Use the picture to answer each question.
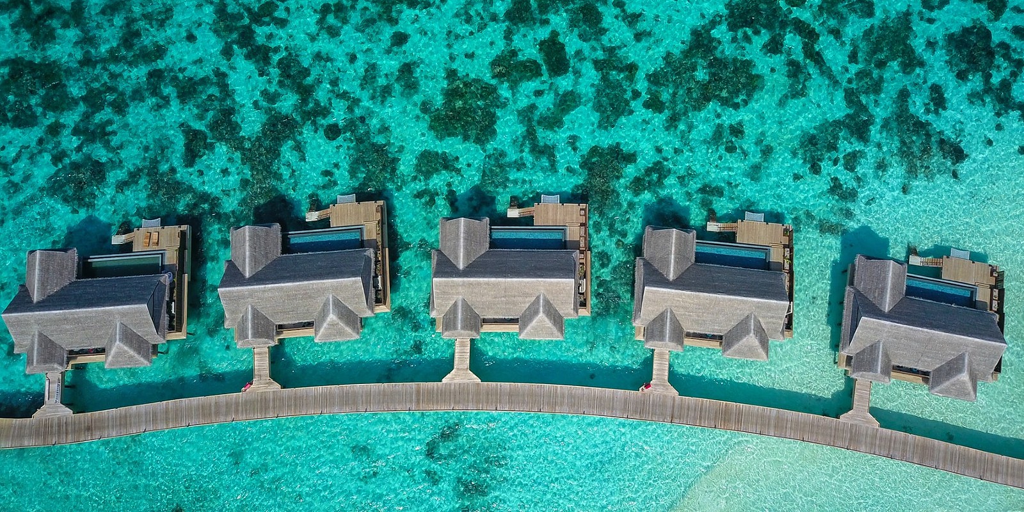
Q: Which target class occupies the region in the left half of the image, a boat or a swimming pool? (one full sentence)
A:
Visible in the left half of the image is a swimming pool.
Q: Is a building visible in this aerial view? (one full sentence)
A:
Yes, there is a building in the image.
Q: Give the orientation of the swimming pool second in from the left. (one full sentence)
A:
What the image shows is the swimming pool second in from the left lying horizontally.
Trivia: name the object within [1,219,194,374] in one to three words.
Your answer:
house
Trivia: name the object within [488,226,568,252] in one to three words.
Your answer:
swimming pool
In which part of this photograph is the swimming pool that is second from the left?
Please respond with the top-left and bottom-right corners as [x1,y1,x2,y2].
[286,226,366,256]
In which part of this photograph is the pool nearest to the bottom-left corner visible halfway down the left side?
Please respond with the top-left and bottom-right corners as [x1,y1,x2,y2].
[87,250,169,281]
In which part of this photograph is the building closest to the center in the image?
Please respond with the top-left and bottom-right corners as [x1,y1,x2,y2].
[427,195,591,341]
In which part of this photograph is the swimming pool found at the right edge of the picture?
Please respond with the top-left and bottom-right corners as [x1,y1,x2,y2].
[904,273,977,310]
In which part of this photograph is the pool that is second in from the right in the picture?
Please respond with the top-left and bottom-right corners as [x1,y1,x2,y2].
[694,240,771,271]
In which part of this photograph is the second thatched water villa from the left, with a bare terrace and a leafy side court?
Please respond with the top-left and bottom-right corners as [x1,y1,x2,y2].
[218,195,391,348]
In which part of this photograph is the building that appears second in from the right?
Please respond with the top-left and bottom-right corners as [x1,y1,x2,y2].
[631,213,794,361]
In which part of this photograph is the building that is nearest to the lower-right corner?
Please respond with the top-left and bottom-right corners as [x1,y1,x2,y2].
[836,249,1008,402]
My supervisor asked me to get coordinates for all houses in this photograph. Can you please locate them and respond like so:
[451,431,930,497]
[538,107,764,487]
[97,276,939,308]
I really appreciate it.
[427,195,591,341]
[631,213,794,361]
[836,249,1008,402]
[1,219,194,374]
[218,195,391,348]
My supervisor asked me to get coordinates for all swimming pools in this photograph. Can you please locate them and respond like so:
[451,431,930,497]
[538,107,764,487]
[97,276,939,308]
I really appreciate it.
[488,226,568,252]
[286,226,366,256]
[87,250,169,281]
[694,240,771,271]
[904,273,977,310]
